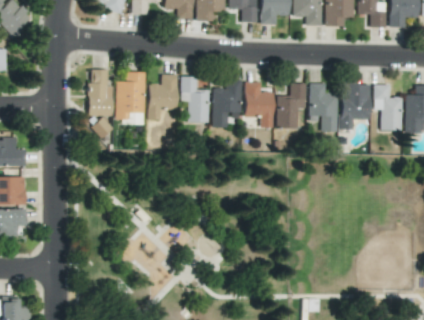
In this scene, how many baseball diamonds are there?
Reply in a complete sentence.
The count comes to 1 baseball diamond.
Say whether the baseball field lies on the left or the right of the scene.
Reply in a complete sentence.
The baseball field is on the right side of the image.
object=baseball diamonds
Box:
[358,230,412,290]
